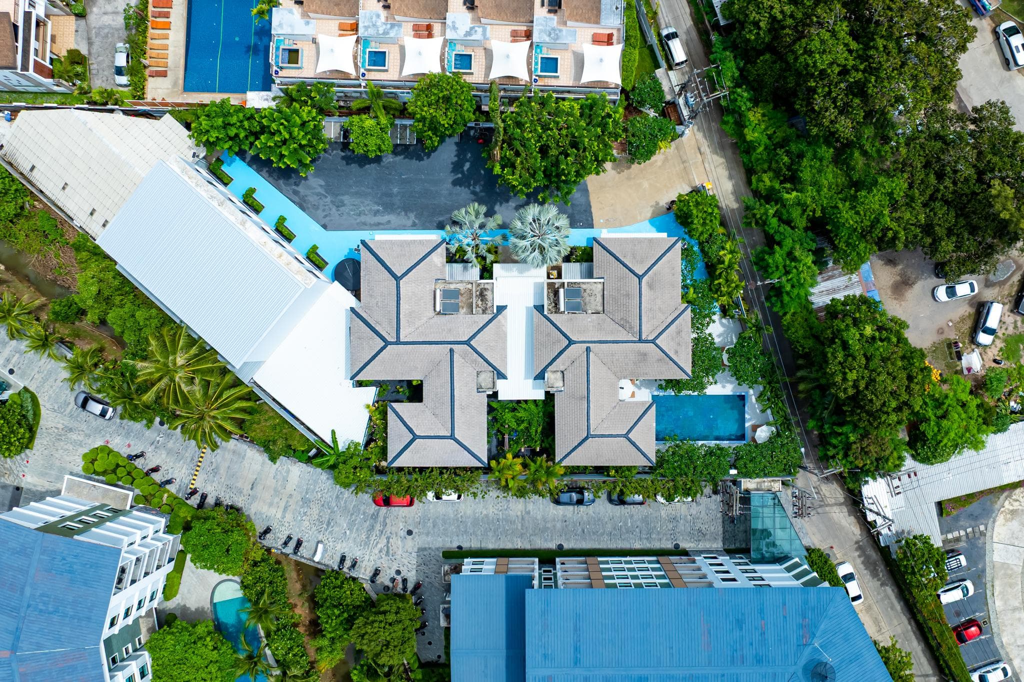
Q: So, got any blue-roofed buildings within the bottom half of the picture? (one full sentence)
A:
Yes, there is a blue-roofed building within the bottom half of the picture.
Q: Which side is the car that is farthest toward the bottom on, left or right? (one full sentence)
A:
It is on the right.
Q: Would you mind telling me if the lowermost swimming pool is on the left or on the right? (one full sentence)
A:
It is on the left.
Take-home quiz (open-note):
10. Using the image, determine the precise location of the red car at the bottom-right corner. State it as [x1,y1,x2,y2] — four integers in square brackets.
[949,618,987,647]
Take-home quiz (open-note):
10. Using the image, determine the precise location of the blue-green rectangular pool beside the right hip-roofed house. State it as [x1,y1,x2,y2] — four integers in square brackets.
[649,392,747,444]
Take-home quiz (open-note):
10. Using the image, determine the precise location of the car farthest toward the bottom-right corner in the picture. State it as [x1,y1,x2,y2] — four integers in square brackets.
[966,659,1013,682]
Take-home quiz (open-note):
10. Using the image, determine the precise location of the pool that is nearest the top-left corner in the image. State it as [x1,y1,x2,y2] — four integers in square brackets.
[180,0,274,95]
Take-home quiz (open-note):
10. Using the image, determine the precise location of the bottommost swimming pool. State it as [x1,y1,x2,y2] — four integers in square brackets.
[210,577,278,682]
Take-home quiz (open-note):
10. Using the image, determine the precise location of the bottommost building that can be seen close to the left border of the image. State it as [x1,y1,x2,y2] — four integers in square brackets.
[0,481,181,682]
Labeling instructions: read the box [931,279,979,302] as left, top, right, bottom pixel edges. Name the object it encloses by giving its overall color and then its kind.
white car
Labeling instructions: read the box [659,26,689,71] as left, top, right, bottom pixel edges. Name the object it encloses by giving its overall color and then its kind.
white car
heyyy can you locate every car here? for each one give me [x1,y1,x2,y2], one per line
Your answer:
[931,279,979,302]
[74,392,116,420]
[966,659,1013,682]
[608,488,646,508]
[949,618,987,647]
[374,490,415,509]
[930,549,969,577]
[993,20,1024,73]
[972,300,1006,347]
[655,489,695,509]
[835,561,864,606]
[553,487,595,507]
[939,577,975,606]
[426,487,464,506]
[659,26,689,71]
[111,43,134,88]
